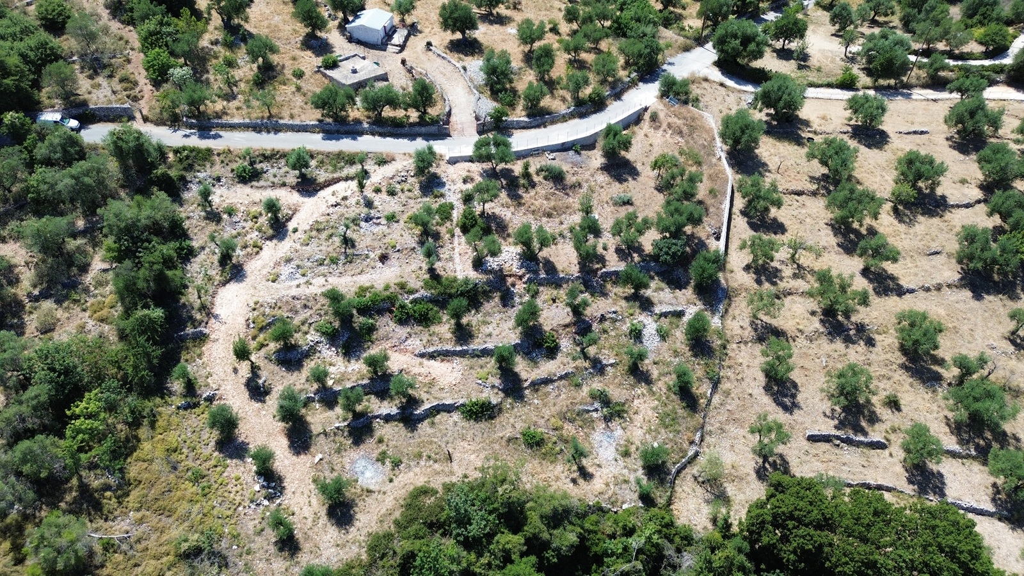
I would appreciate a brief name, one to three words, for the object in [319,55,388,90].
storage tank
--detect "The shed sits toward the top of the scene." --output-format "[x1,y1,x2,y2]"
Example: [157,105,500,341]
[345,1,399,44]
